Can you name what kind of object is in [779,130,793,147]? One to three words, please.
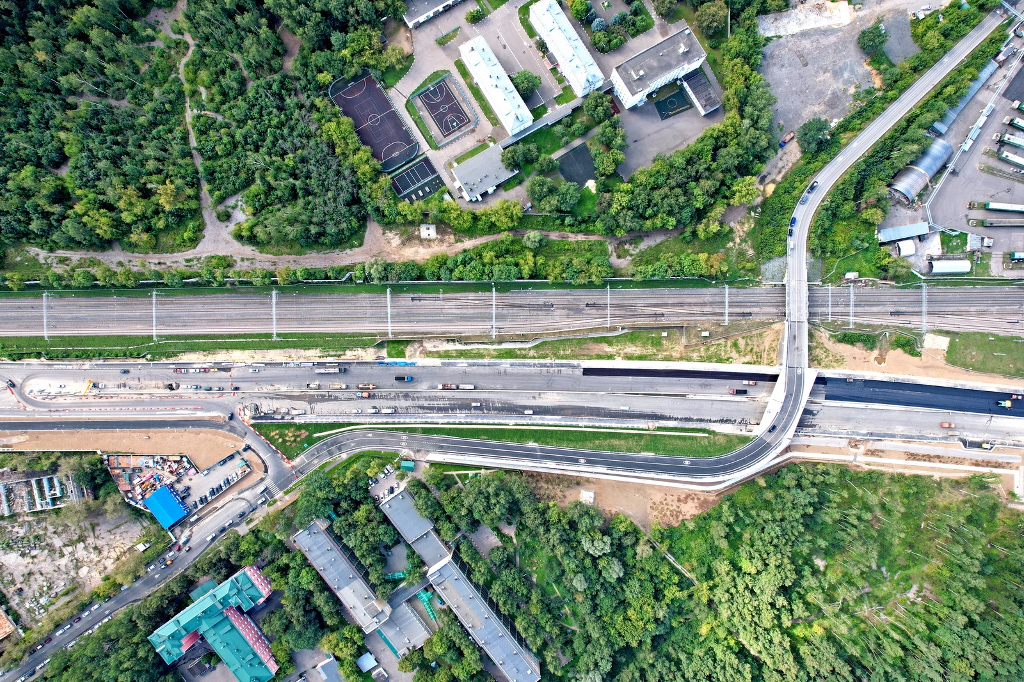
vehicle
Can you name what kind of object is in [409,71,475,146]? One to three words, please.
basketball court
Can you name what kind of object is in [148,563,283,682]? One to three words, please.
building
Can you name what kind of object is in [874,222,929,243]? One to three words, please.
shed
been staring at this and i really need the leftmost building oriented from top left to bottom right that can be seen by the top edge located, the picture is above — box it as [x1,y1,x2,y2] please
[458,34,533,136]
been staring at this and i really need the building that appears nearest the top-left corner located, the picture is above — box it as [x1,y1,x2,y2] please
[403,0,459,28]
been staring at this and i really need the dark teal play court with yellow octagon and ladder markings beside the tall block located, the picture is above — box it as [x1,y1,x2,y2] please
[656,90,694,120]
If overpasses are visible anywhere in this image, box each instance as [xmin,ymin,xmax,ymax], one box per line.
[744,279,823,461]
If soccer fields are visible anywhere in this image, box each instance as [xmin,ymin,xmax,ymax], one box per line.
[327,65,418,170]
